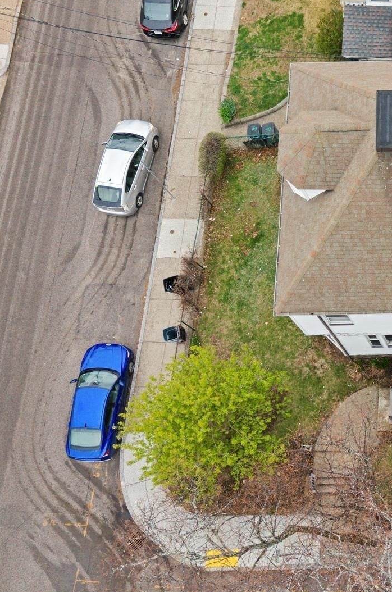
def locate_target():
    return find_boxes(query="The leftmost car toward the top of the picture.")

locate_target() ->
[93,120,159,219]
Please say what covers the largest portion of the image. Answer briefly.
paved ground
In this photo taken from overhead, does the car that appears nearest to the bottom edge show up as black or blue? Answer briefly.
blue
